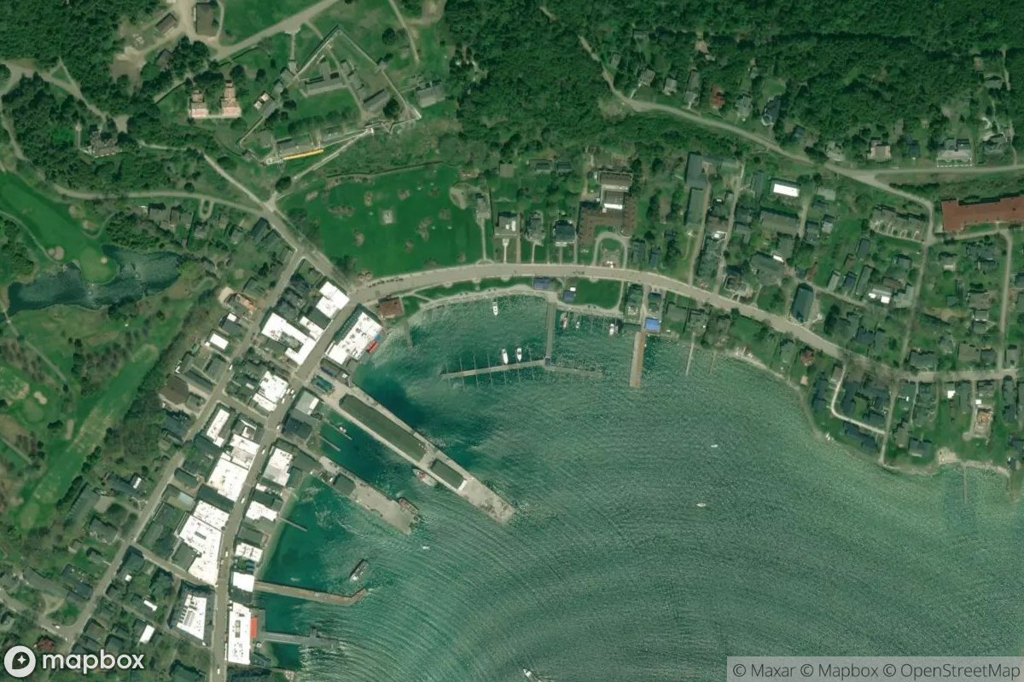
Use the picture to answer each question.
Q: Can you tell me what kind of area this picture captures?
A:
residential area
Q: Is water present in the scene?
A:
Yes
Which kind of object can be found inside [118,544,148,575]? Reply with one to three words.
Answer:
house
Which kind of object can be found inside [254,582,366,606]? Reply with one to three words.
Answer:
pier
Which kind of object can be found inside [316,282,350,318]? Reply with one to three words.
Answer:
building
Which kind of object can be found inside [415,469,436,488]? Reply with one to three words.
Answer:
ship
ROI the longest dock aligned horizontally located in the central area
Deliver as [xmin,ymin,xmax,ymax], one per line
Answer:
[441,358,546,378]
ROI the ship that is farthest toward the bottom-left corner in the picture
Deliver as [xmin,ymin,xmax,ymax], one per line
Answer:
[350,560,367,580]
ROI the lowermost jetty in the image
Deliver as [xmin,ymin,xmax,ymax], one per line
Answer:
[262,629,339,647]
